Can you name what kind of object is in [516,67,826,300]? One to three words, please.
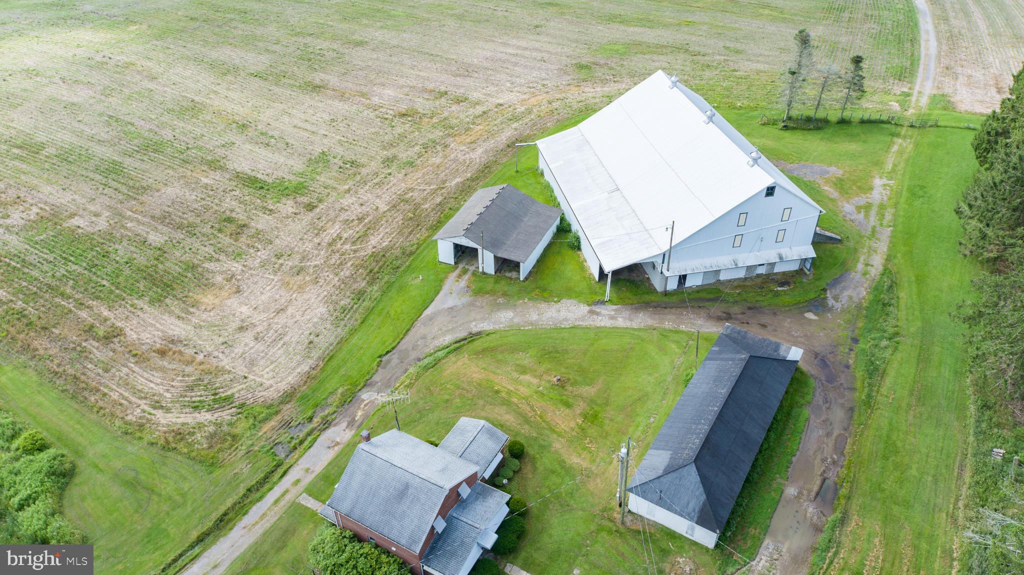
barn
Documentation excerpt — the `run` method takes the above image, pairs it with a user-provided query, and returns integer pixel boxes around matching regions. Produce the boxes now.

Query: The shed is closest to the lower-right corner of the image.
[627,325,802,549]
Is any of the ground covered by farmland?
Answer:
Yes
